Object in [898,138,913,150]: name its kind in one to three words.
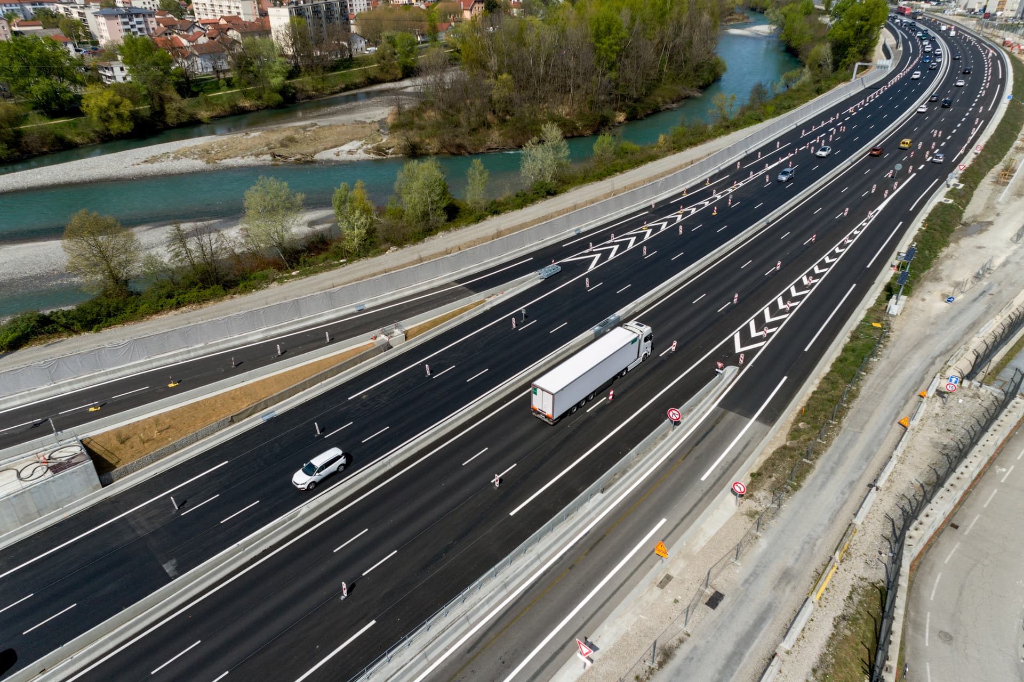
vehicle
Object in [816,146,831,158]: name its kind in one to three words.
vehicle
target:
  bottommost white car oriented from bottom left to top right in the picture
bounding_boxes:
[291,447,350,490]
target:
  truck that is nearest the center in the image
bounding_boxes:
[531,325,655,426]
